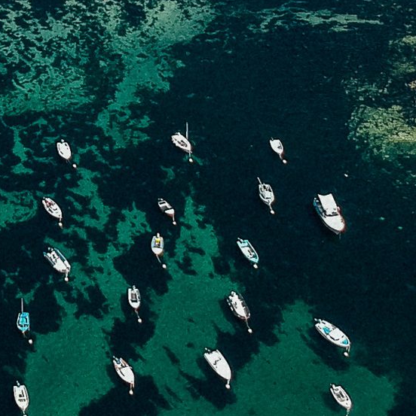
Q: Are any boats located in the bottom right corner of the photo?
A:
Yes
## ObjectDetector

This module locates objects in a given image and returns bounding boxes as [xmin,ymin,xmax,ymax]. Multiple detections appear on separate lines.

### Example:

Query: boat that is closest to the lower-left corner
[12,379,31,415]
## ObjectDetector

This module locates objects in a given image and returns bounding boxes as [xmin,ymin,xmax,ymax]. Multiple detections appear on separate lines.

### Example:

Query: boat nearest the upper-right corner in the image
[267,135,284,161]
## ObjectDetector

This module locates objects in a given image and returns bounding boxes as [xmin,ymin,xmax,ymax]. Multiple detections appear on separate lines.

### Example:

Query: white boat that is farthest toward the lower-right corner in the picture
[327,378,352,416]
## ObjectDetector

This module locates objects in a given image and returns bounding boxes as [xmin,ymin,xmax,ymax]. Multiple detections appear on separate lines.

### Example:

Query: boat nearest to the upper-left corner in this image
[56,136,73,164]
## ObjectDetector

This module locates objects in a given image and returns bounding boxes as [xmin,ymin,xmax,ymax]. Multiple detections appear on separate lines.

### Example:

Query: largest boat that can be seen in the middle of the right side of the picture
[311,185,343,237]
